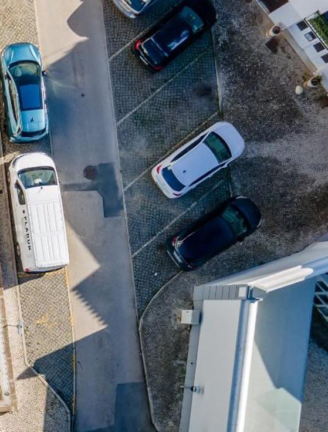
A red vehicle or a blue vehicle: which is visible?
blue vehicle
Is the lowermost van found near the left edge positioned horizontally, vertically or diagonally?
vertically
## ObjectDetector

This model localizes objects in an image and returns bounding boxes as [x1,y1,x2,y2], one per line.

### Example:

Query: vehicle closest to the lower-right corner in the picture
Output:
[157,194,261,277]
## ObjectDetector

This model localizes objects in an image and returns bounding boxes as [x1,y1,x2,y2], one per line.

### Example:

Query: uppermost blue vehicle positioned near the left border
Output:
[0,45,50,146]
